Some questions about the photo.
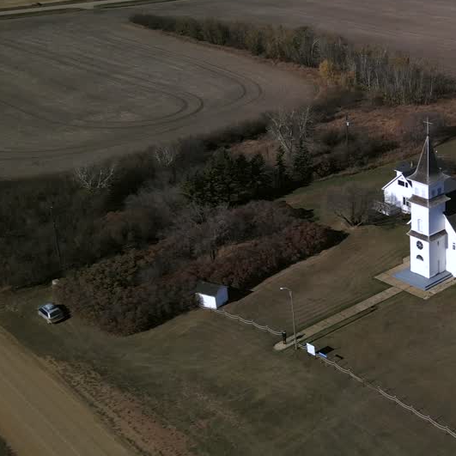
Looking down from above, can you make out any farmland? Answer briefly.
Yes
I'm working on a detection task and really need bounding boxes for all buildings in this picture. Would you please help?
[197,281,231,310]
[393,111,456,290]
